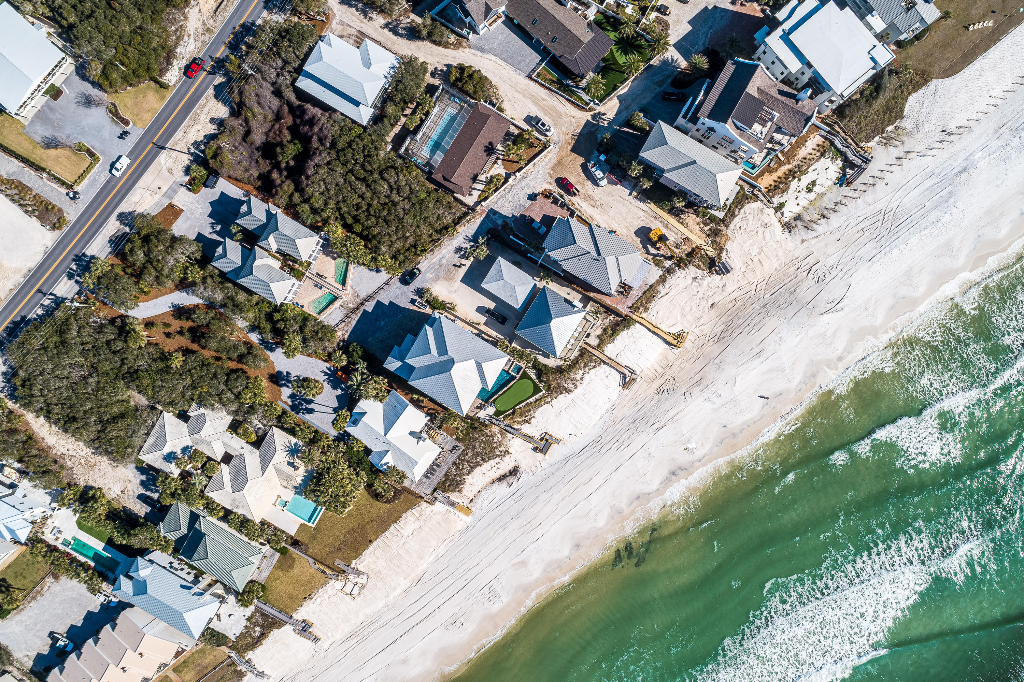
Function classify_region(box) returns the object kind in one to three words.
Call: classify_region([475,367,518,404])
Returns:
swimming pool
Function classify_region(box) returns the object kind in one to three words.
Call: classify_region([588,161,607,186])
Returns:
vehicle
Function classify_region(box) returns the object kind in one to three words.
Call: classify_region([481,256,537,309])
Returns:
building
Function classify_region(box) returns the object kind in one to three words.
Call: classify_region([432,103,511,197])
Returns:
house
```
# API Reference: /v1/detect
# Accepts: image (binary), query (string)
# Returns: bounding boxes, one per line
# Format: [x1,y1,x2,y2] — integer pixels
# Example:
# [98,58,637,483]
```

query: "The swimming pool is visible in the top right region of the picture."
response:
[738,159,763,175]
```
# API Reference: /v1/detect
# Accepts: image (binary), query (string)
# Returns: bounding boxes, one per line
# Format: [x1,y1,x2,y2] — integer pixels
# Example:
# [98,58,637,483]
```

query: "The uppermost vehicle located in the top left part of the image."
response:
[184,54,204,78]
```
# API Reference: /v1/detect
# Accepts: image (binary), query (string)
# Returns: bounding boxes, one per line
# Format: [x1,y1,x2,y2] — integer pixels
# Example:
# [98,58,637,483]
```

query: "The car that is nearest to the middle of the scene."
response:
[485,307,508,325]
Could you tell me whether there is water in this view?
Yes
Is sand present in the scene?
Yes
